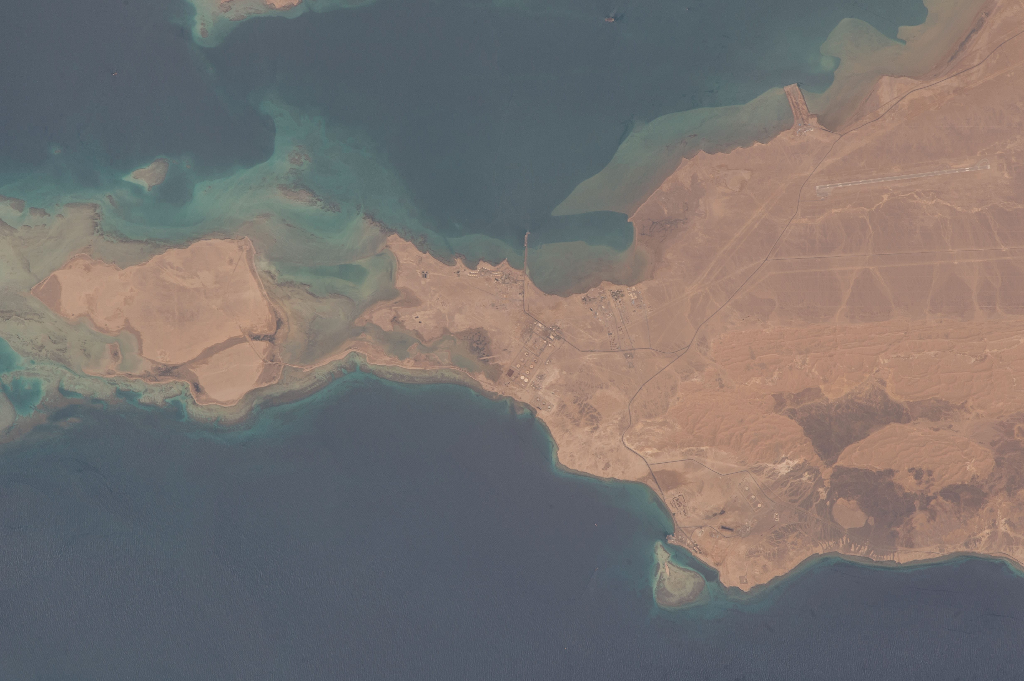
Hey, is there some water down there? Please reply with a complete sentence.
Yes, water shows up in the scene.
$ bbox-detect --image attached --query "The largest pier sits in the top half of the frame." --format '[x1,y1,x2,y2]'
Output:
[784,83,826,130]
